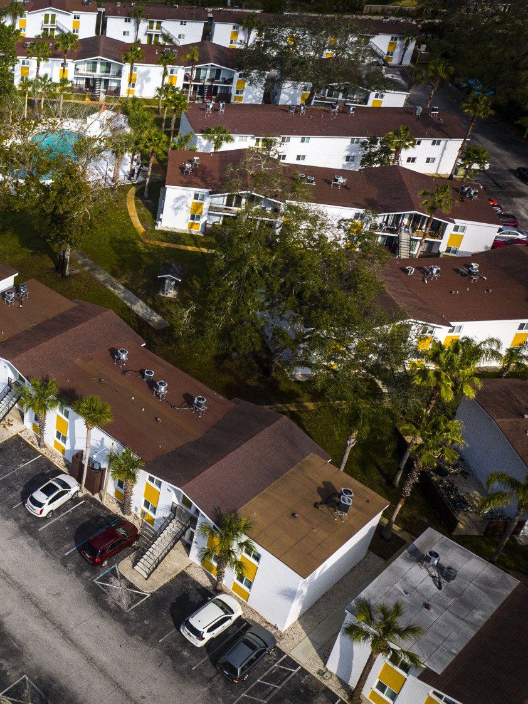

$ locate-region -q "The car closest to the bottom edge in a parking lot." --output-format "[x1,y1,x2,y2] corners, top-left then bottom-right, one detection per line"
[214,625,278,684]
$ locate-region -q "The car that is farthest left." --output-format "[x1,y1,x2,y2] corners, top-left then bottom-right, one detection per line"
[25,479,78,519]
